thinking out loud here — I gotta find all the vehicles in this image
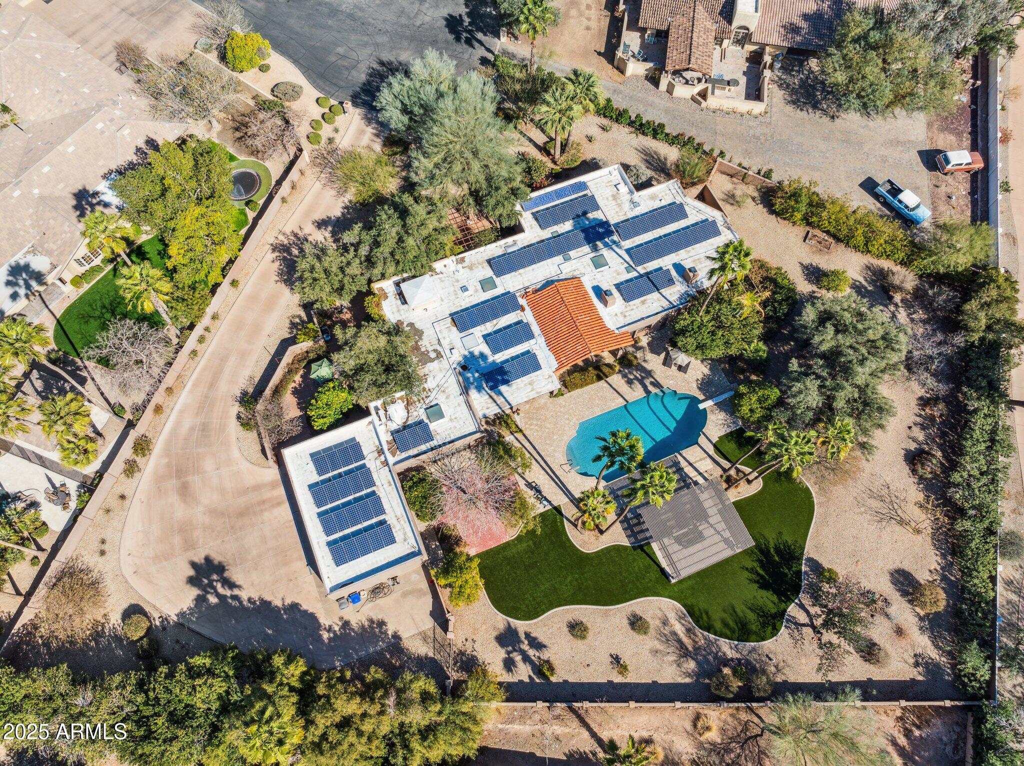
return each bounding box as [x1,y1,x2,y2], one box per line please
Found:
[875,182,928,229]
[939,152,983,177]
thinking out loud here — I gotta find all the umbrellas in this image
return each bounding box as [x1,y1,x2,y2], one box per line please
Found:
[666,346,690,368]
[309,360,335,380]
